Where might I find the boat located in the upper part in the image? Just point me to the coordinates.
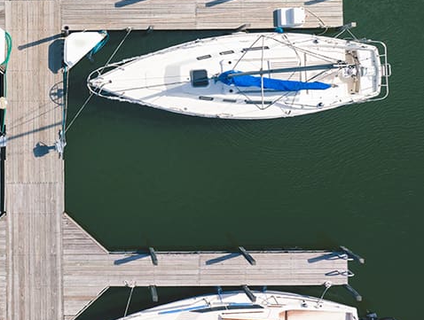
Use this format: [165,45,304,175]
[87,34,391,120]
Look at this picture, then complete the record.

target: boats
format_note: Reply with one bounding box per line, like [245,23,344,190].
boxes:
[87,34,391,120]
[121,294,392,320]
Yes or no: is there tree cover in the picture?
No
